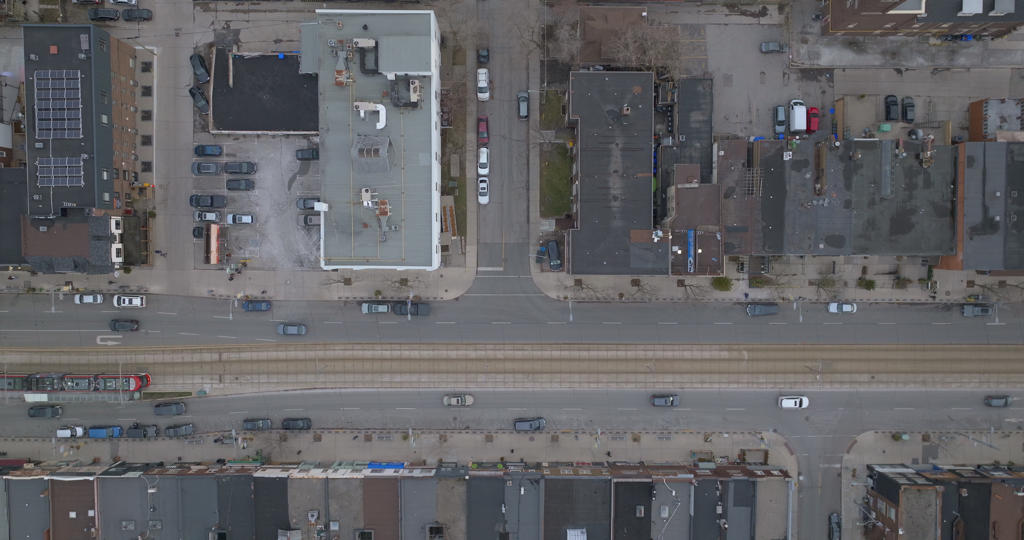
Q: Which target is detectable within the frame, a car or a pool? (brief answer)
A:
car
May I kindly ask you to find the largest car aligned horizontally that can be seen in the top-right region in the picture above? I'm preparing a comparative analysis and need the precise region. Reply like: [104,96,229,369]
[760,40,789,54]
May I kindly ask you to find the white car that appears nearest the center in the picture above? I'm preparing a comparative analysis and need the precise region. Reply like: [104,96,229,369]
[477,177,490,204]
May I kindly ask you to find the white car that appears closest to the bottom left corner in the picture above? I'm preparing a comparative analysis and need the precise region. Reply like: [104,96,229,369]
[56,425,87,439]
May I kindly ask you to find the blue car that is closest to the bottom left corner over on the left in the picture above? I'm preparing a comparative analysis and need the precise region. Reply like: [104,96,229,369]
[89,424,123,440]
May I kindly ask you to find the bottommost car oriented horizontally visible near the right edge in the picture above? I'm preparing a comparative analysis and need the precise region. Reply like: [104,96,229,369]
[983,395,1012,409]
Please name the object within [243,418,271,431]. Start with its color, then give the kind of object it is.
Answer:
gray vehicle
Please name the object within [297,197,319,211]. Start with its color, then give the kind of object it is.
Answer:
gray car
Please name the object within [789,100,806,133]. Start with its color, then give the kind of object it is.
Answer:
white vehicle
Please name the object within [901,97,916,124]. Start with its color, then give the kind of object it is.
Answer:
gray car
